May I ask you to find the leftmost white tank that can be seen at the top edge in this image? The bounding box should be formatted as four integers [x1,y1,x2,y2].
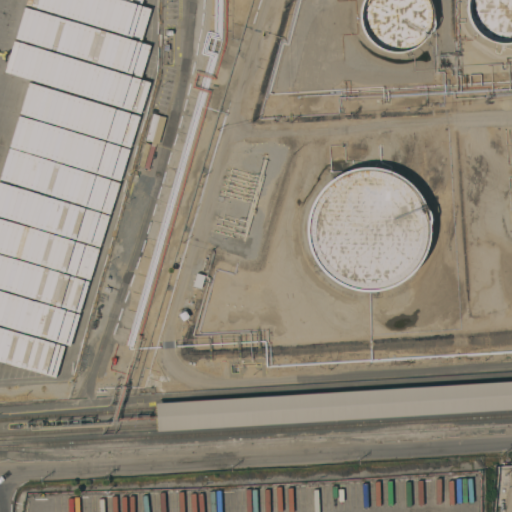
[361,0,438,56]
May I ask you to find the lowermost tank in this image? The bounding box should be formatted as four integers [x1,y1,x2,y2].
[306,166,434,293]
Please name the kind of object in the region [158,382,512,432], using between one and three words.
shed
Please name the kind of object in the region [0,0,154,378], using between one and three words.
warehouse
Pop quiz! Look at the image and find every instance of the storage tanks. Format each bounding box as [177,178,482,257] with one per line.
[361,0,438,56]
[466,0,512,47]
[306,166,434,293]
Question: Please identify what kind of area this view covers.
industrial area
